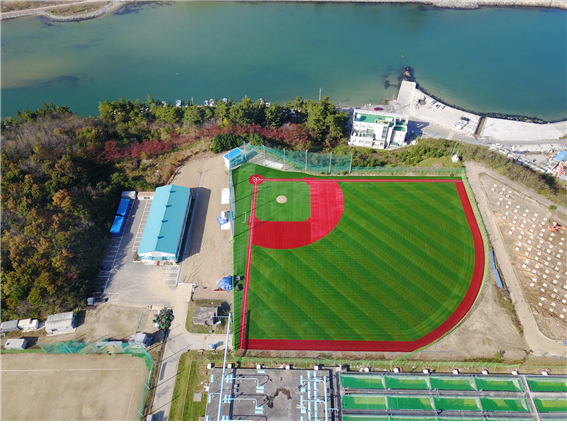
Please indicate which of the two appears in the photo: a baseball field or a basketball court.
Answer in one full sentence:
I can see a baseball field in this picture.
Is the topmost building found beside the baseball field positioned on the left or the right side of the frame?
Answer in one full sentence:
You can find the topmost building found beside the baseball field on the right side of the picture.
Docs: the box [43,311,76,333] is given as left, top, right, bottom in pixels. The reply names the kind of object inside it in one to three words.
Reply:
shed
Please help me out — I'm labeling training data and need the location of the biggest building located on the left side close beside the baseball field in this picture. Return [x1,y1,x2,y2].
[136,184,193,266]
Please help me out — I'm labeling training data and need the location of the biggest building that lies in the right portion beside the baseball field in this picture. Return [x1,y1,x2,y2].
[349,108,405,149]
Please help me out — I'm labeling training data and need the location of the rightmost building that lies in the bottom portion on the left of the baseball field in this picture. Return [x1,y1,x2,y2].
[194,308,218,326]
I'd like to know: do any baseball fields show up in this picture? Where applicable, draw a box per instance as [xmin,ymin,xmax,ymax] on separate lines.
[231,161,486,351]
